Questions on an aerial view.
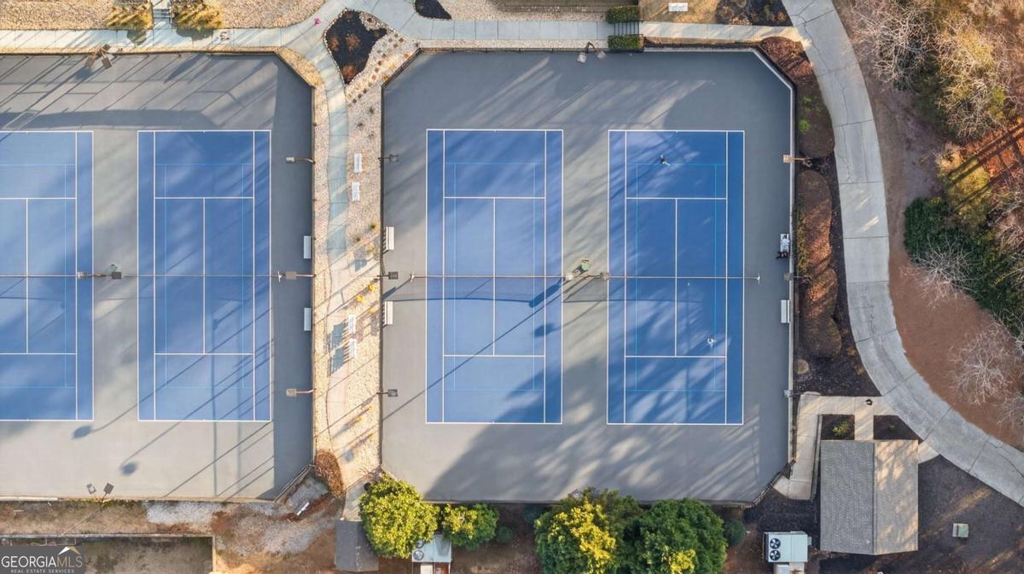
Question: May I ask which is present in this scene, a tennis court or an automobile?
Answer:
tennis court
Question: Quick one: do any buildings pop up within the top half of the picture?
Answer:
No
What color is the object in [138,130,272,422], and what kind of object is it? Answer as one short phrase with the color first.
blue tennis court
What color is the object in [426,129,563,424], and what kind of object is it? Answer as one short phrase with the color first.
blue tennis court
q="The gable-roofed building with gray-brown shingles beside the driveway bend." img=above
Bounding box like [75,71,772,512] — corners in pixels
[820,440,918,555]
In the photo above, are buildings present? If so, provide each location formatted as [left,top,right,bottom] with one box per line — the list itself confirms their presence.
[335,520,378,572]
[820,440,918,555]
